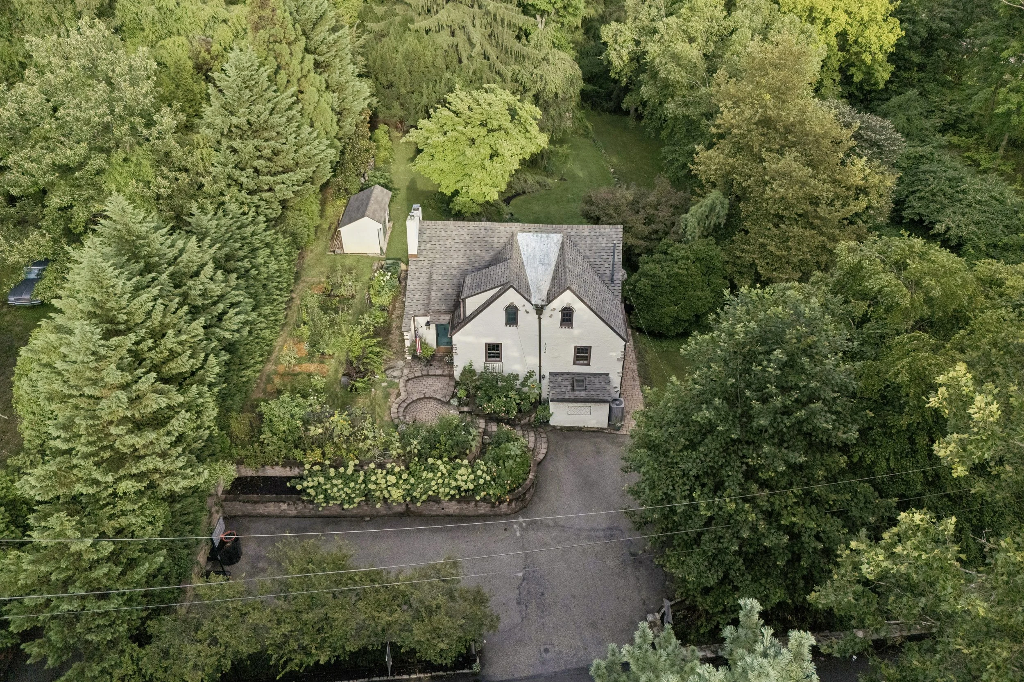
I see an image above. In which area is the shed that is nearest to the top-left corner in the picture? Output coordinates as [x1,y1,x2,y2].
[338,192,395,254]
